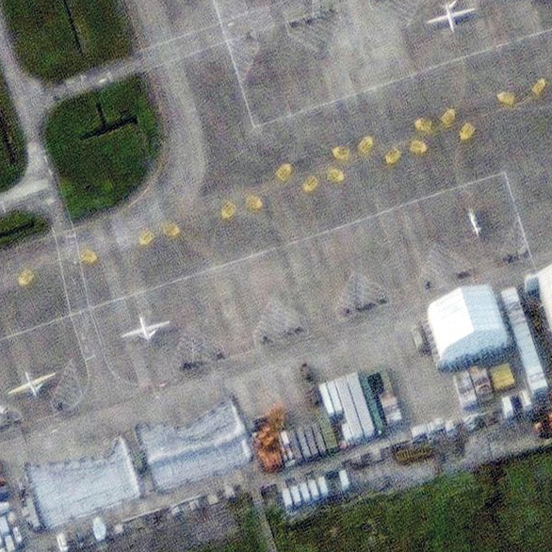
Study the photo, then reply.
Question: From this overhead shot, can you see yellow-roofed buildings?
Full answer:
Yes, the frame does contain a yellow-roofed building.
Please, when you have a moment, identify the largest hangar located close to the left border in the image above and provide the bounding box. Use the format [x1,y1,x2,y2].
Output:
[26,435,142,530]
